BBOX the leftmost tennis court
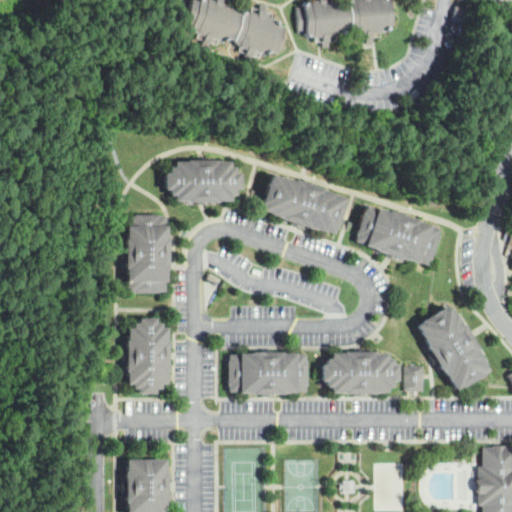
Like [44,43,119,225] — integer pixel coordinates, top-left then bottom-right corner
[224,448,262,512]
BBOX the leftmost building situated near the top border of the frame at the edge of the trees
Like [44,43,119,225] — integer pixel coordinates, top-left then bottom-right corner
[191,0,286,59]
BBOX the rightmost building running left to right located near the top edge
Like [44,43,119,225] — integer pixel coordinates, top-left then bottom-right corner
[294,0,396,49]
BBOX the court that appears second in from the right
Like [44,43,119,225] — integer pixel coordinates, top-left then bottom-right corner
[284,459,319,512]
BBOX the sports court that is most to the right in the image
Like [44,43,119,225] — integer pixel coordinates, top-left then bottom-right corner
[373,463,404,512]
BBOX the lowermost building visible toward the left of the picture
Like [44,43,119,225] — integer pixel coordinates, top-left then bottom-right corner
[128,459,172,512]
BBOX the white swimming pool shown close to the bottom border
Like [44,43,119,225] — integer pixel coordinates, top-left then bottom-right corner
[418,456,478,512]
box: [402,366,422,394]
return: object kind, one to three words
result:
house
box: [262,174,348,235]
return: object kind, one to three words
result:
building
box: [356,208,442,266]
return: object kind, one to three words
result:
building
